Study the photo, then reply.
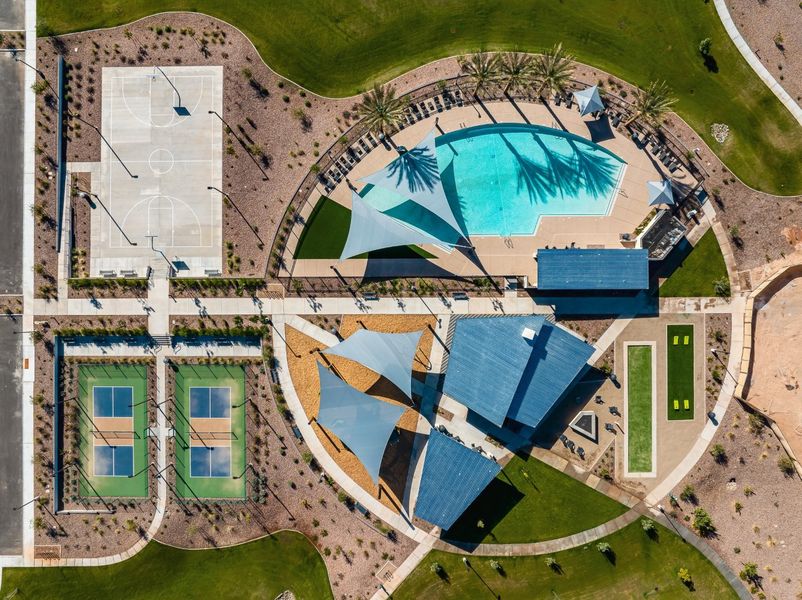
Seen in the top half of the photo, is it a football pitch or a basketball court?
basketball court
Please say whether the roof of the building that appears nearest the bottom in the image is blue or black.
blue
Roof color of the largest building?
blue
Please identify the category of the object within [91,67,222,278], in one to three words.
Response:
basketball court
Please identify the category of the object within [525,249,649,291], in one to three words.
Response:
building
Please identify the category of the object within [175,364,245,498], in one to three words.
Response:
sports court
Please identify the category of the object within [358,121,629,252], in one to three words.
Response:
swimming pool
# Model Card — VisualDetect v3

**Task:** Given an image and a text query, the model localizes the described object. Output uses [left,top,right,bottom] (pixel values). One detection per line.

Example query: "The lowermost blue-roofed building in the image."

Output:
[414,428,502,530]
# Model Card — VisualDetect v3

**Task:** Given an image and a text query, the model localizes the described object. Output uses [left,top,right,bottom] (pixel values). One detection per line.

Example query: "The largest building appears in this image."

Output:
[443,316,596,428]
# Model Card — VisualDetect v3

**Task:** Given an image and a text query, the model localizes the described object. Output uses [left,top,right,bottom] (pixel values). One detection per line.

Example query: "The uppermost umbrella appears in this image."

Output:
[573,85,605,117]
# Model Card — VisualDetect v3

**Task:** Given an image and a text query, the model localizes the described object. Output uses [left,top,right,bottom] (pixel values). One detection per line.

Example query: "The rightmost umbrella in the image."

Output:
[647,180,674,206]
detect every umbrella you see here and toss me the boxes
[647,180,674,206]
[573,85,605,117]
